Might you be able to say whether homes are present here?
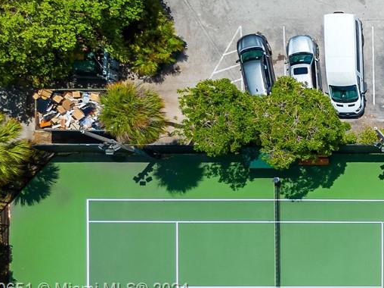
No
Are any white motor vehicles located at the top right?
Yes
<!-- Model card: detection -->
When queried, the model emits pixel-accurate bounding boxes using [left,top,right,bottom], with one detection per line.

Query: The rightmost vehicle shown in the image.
[320,8,366,117]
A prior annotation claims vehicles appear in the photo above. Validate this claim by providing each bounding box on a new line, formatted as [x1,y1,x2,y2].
[282,31,321,108]
[320,8,366,117]
[235,28,280,104]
